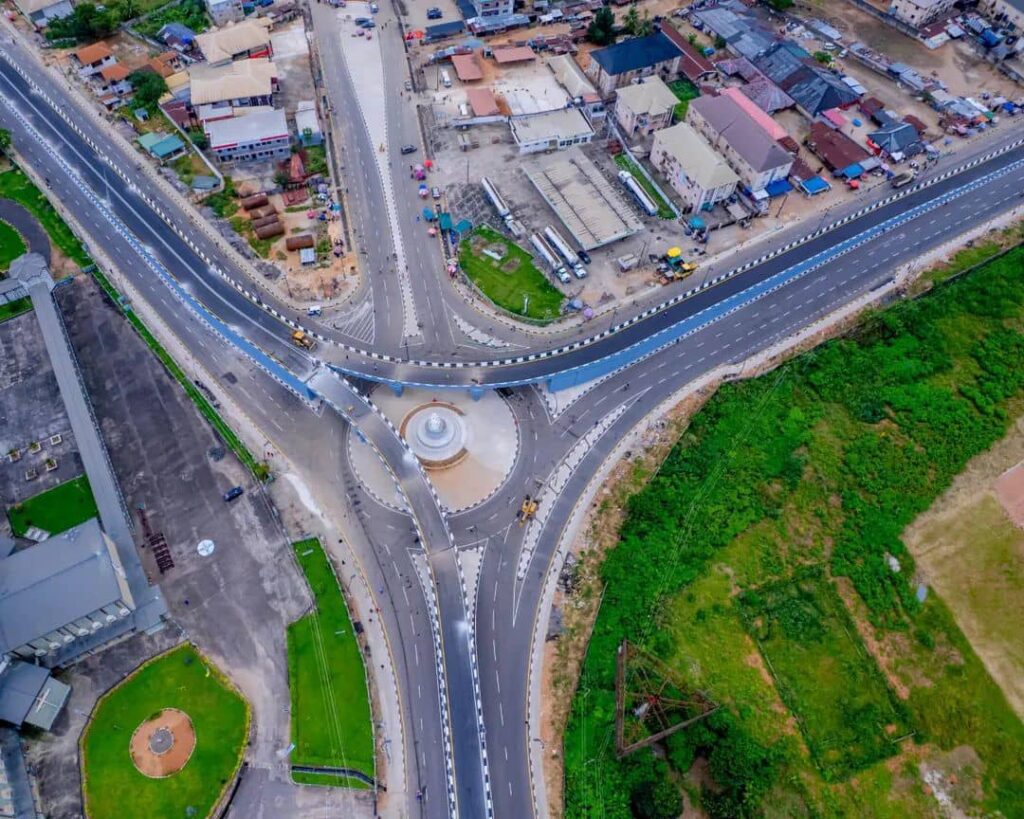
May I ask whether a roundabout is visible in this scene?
Yes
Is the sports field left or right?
right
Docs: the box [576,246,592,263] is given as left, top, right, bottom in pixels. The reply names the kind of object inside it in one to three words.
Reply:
car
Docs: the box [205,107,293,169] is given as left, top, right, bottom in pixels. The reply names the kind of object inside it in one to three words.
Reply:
building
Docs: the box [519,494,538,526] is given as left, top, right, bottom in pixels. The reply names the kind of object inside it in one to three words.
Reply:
work vehicle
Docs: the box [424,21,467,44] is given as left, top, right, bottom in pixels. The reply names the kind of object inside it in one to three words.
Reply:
house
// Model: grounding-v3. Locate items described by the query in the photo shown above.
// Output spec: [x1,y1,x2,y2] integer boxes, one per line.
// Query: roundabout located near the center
[319,362,541,539]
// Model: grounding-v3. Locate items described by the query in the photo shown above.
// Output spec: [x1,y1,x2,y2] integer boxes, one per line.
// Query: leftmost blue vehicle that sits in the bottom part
[220,485,245,501]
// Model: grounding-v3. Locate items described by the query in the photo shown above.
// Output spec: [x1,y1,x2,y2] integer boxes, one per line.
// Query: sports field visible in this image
[902,415,1024,721]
